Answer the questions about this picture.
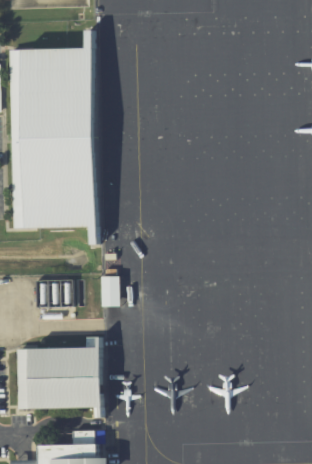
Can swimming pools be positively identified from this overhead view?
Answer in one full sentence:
No, the photo shows no swimming pool.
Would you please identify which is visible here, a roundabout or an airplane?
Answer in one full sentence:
The one in the frame is an airplane.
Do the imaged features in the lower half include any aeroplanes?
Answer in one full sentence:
Yes, I can see an aeroplane in the lower half.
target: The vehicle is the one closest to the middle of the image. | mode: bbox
[128,241,146,258]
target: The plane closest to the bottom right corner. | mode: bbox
[206,376,248,414]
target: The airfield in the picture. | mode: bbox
[96,0,312,464]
